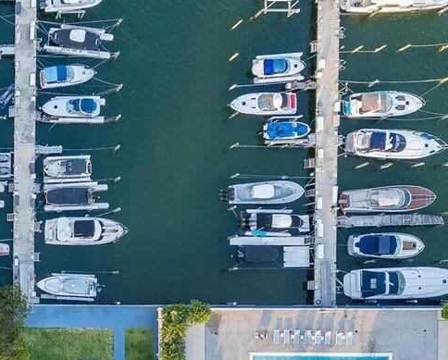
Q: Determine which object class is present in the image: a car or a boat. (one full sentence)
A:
Visible in the photo is a boat.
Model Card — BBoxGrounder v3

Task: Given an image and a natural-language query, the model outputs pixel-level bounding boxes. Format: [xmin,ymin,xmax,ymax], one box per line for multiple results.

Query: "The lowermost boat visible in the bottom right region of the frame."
[337,267,448,301]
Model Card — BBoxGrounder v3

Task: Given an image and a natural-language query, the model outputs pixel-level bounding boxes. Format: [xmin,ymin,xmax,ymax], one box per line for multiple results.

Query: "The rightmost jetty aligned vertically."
[311,0,337,304]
